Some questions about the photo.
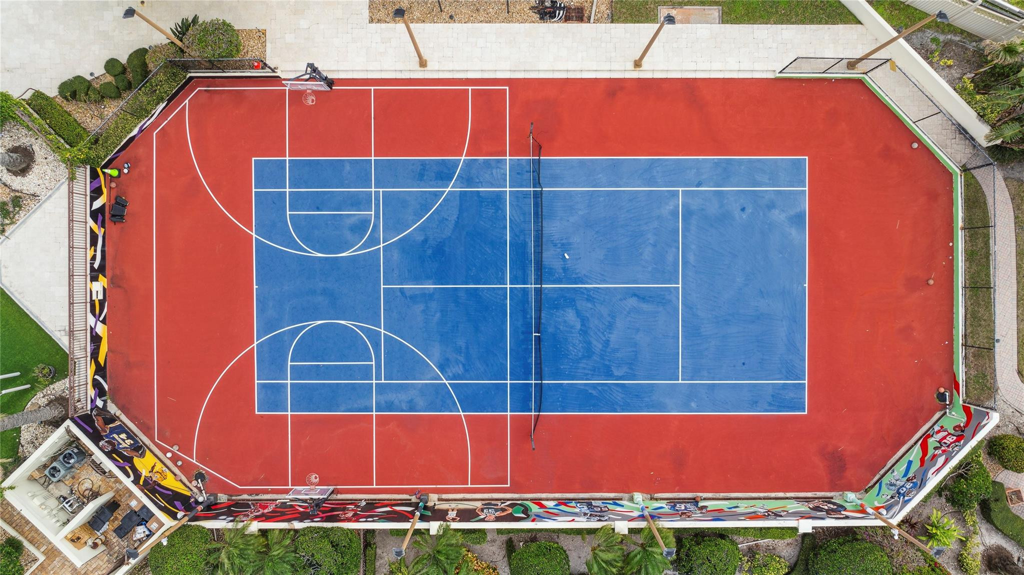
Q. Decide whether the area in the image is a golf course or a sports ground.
sports ground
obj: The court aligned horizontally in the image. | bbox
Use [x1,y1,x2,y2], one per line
[107,78,954,495]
